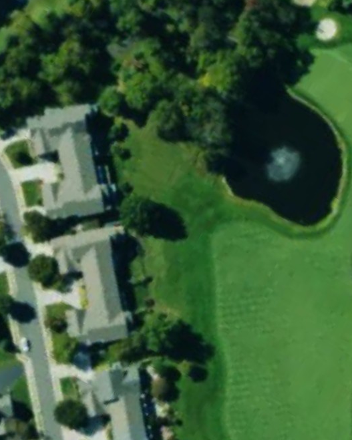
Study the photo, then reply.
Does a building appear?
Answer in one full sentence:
Yes, the picture does show a building.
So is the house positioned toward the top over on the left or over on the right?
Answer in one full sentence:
The house positioned toward the top sits on the left side.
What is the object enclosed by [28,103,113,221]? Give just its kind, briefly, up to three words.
house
